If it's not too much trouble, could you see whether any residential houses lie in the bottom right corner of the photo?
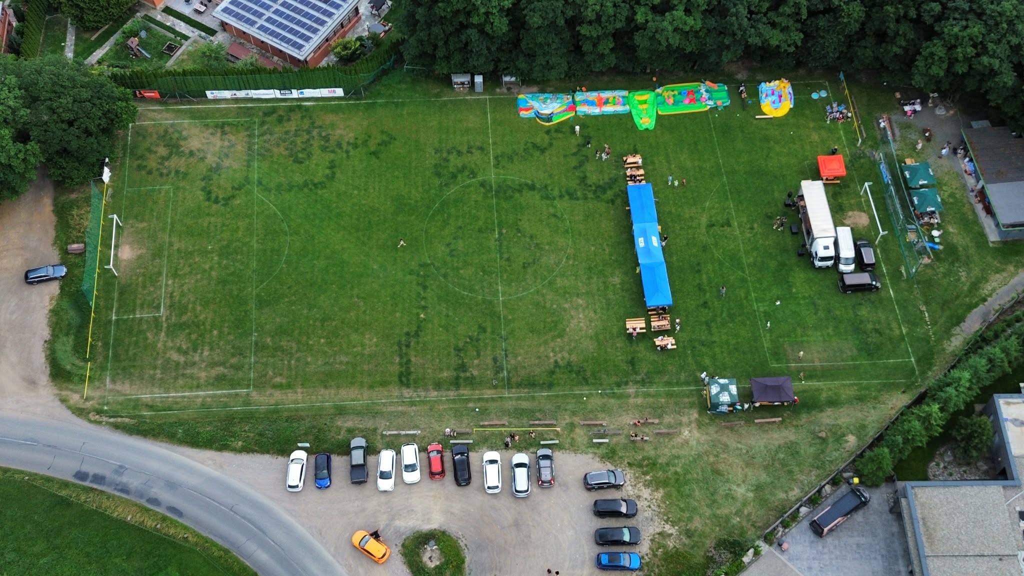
Yes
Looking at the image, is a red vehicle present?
Yes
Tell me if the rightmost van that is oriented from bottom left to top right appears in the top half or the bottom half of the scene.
bottom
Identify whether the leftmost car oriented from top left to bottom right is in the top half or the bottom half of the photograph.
bottom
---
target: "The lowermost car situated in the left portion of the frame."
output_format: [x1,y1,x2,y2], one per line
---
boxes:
[352,533,391,564]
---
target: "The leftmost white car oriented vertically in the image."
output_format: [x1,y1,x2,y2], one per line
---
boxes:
[287,452,308,494]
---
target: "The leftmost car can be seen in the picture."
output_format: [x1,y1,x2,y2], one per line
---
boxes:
[25,266,68,286]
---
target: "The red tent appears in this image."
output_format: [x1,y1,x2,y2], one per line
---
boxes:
[814,156,846,186]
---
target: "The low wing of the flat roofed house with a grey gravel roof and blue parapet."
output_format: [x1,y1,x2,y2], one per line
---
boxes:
[893,481,1024,576]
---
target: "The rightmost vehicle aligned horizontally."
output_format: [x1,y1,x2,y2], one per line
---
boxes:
[838,274,879,294]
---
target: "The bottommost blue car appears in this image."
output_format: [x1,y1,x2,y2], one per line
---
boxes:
[597,551,641,573]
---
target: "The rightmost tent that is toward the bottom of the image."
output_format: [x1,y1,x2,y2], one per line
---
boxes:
[748,378,794,411]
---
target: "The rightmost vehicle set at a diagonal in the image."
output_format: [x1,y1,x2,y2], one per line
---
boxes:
[810,489,869,539]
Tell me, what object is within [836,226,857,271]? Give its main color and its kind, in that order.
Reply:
white vehicle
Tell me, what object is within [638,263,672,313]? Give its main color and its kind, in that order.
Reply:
blue tent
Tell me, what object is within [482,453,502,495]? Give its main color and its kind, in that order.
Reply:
white car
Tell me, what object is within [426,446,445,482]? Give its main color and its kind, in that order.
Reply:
red car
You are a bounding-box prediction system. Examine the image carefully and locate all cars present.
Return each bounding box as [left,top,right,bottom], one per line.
[535,450,555,490]
[838,274,879,294]
[400,444,420,486]
[597,551,641,573]
[856,242,875,273]
[451,446,471,488]
[593,499,638,520]
[314,454,333,491]
[352,533,391,564]
[375,451,396,492]
[25,266,68,286]
[426,446,445,482]
[287,452,308,494]
[595,526,641,548]
[583,469,625,492]
[482,453,502,495]
[511,455,531,499]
